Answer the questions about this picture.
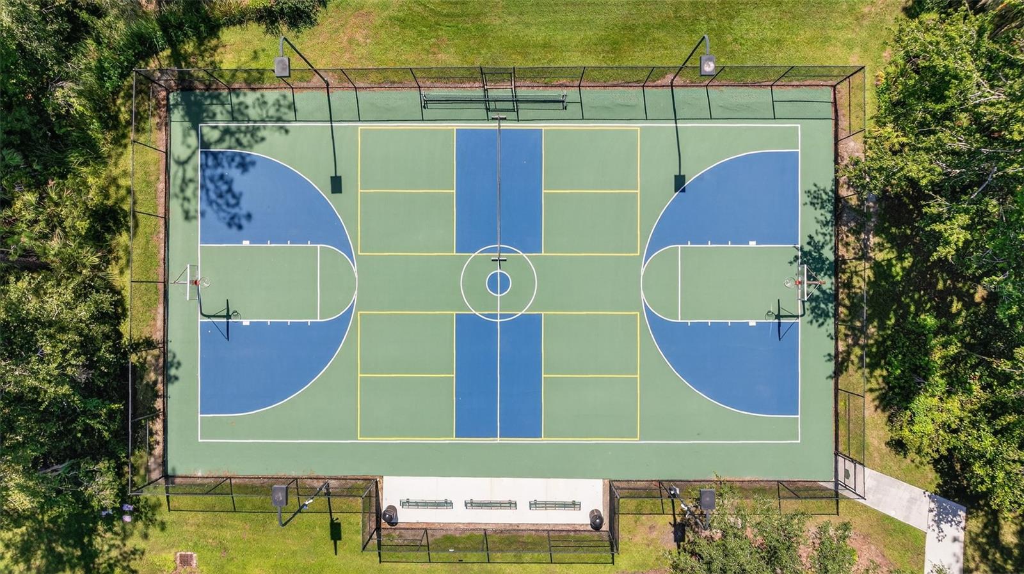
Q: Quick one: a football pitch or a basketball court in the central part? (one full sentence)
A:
The feature located in the central part is a basketball court.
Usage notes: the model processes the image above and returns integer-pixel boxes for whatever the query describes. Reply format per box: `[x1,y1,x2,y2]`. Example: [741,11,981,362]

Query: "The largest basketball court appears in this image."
[167,87,834,481]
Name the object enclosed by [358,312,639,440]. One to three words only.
sports court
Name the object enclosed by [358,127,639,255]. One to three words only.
sports court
